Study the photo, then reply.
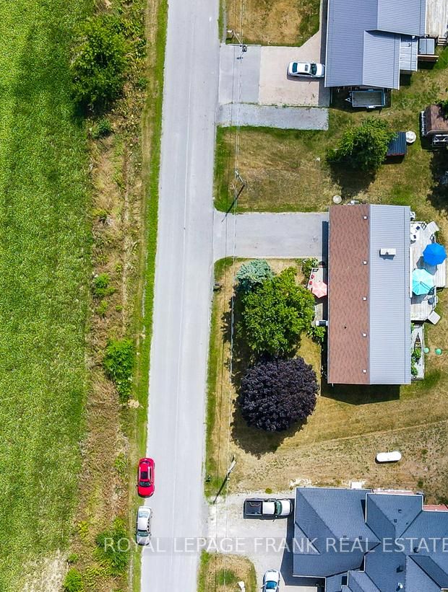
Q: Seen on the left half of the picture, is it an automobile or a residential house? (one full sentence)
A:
It is an automobile that can be seen on the left half of the picture.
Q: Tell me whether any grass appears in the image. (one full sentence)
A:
Yes, the picture does contain grass.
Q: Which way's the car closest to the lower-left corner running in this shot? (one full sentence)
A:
Seen from above, the car closest to the lower-left corner lies from top to bottom.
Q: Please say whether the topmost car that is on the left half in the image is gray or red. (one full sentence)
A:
The topmost car that is on the left half looks red in the image.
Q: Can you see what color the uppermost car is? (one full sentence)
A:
The color of the uppermost car is white.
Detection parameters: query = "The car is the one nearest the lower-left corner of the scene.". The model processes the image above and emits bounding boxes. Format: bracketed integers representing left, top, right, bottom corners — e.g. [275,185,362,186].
[133,506,153,545]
